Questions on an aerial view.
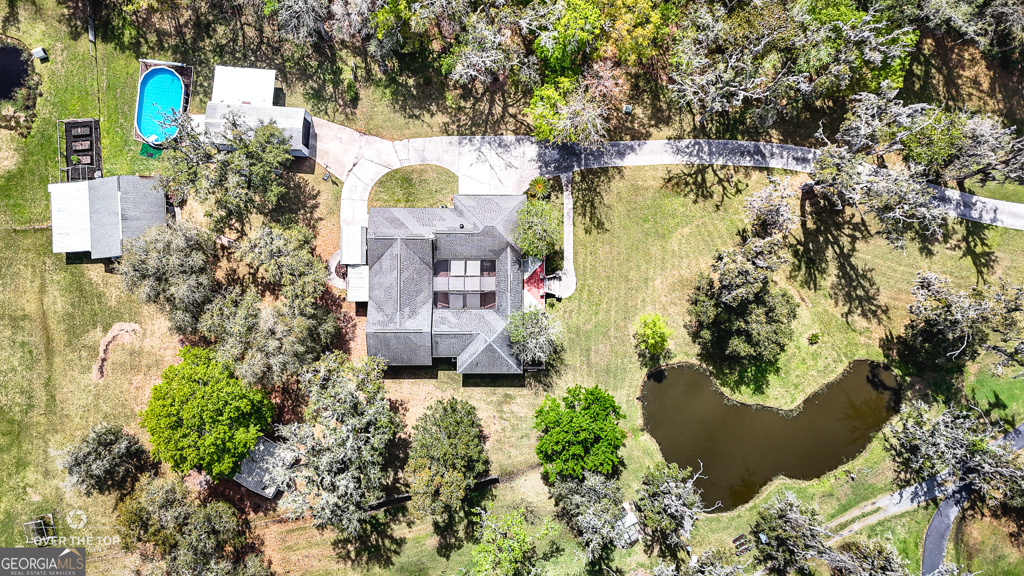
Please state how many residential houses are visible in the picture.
two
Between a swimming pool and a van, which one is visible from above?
swimming pool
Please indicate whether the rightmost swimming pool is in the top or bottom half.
top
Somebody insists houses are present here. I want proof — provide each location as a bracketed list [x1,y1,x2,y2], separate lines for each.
[49,176,175,261]
[366,194,527,374]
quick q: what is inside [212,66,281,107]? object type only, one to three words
shed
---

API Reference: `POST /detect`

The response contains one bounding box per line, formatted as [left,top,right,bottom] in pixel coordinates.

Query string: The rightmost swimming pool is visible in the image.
[136,66,188,144]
